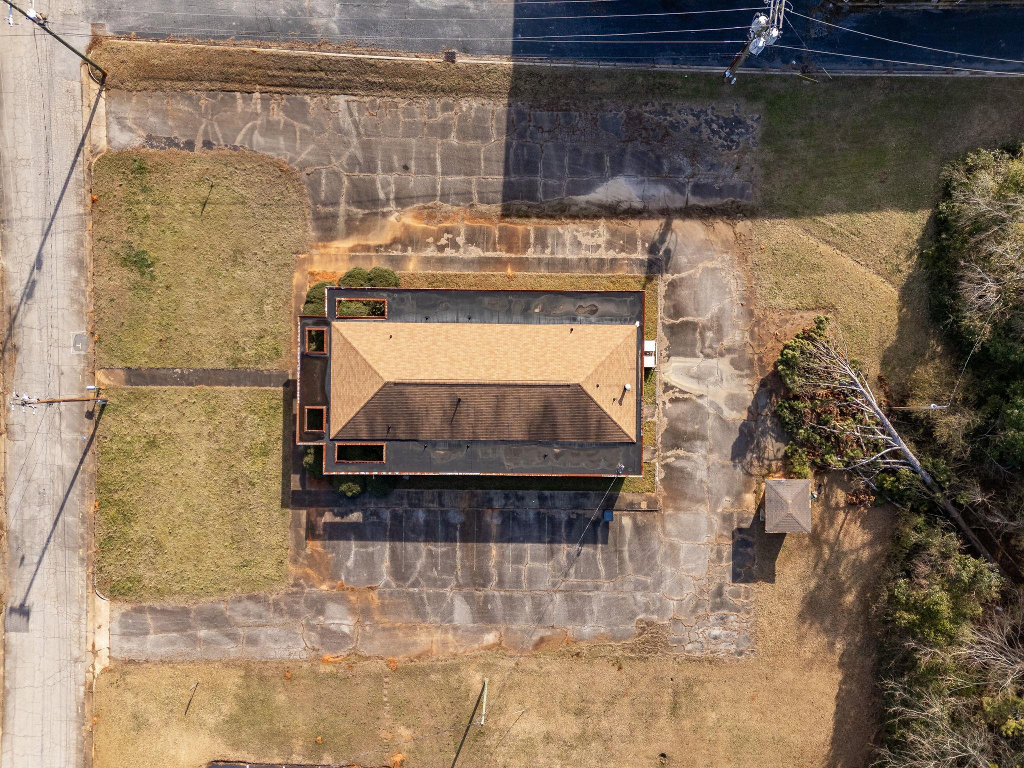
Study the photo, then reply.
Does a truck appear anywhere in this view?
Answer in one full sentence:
No, no truck can be seen from above.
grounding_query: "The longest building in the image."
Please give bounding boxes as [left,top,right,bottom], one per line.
[297,288,644,477]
